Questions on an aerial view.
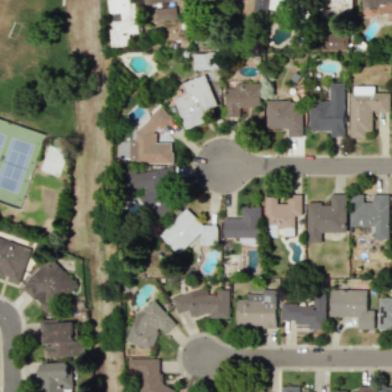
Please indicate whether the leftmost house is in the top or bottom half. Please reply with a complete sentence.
Seen from above, the leftmost house lies in the bottom half of the view.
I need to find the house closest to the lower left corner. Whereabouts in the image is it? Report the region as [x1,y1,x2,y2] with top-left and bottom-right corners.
[36,362,72,392]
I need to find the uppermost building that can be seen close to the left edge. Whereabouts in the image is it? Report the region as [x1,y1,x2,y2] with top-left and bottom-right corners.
[0,238,31,283]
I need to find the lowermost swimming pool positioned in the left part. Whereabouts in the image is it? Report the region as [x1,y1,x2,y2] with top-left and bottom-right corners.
[136,283,154,306]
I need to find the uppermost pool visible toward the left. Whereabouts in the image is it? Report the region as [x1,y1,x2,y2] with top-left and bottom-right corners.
[130,56,153,74]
